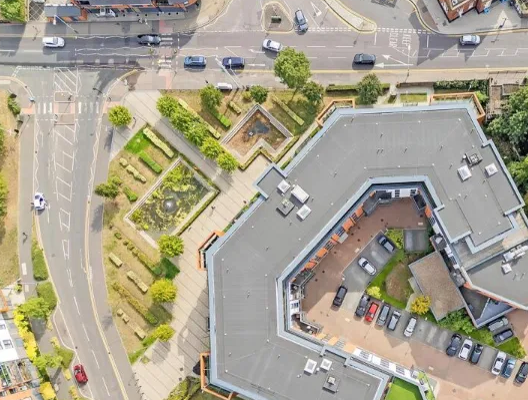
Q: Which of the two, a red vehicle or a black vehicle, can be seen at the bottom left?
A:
red vehicle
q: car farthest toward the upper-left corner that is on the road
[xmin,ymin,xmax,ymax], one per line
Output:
[42,35,64,48]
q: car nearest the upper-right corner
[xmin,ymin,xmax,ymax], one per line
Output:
[459,34,480,46]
